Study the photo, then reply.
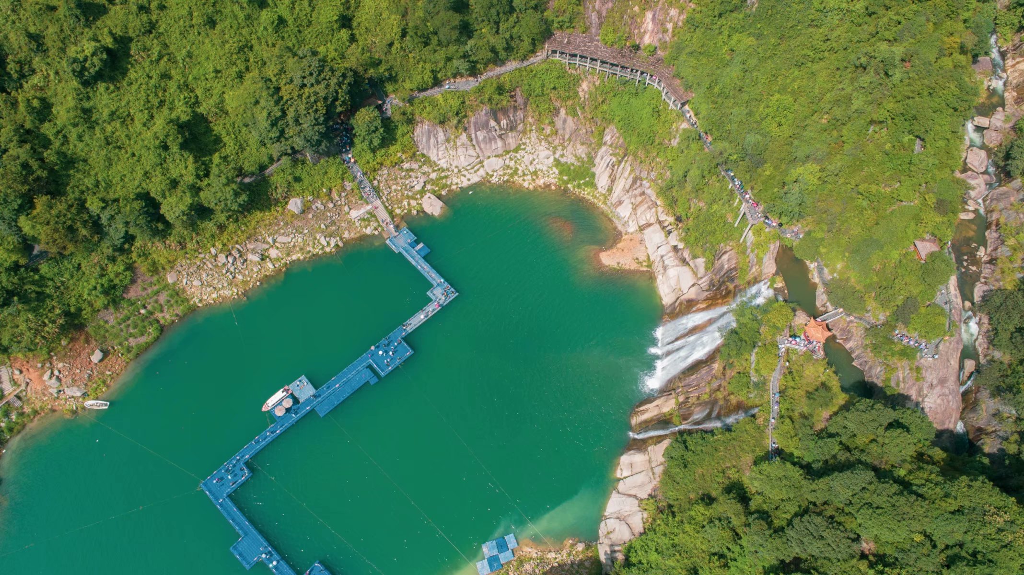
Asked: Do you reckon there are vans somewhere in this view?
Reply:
No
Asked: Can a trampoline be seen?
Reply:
No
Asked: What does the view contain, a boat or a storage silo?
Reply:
boat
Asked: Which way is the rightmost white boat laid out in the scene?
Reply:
at an angle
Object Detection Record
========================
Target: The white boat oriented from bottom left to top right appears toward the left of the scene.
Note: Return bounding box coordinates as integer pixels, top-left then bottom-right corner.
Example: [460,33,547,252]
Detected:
[261,385,292,411]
